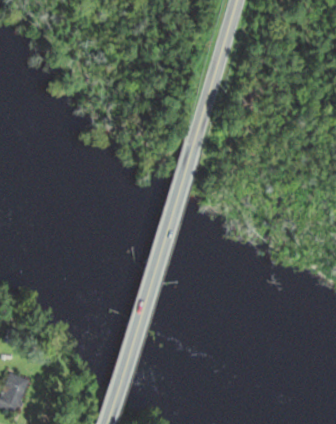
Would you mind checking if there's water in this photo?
Yes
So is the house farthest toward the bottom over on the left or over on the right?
left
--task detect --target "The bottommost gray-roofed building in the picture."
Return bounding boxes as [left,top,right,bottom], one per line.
[0,372,28,409]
